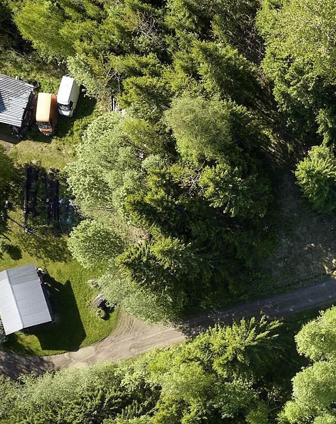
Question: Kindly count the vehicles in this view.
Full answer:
My tally gives 2 vehicles in this view.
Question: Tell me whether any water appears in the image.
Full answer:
No, there's no water in this view.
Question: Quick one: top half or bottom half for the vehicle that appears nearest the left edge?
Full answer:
Seen from above, the vehicle that appears nearest the left edge lies in the top half of the view.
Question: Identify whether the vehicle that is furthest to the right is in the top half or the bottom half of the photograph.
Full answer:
The top half of the photo is where the vehicle that is furthest to the right is.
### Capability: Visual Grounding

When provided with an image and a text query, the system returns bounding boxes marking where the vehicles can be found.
[38,92,60,136]
[55,73,81,117]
